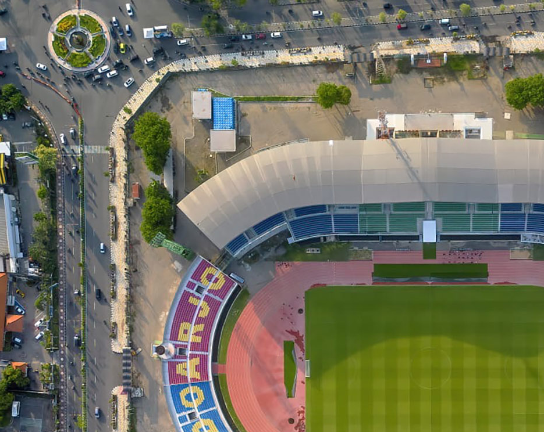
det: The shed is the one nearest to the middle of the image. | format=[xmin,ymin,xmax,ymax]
[211,130,237,153]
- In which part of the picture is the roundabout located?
top left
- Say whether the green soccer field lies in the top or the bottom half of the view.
bottom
